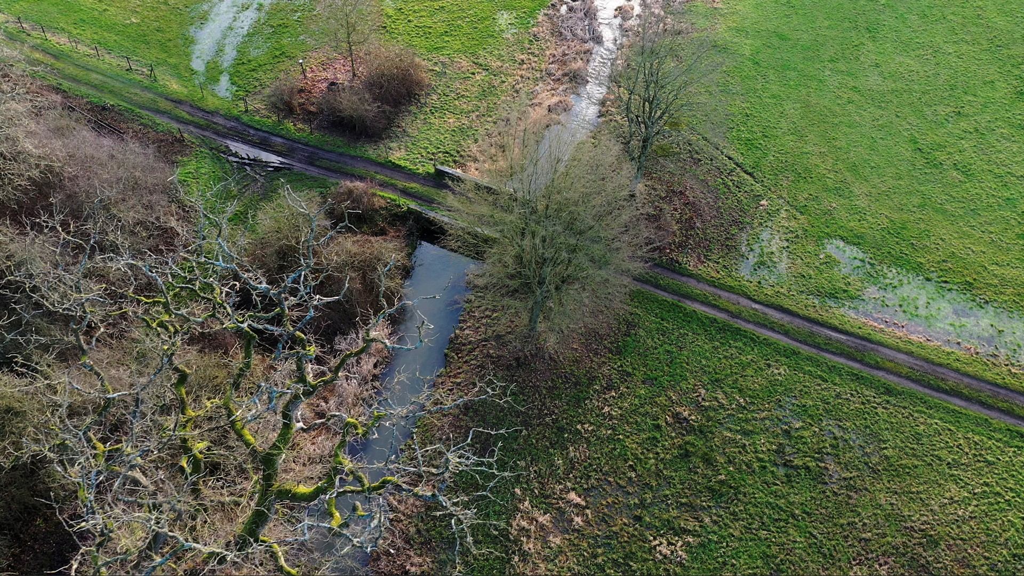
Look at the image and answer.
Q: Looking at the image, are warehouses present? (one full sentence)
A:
No, no warehouse is visible in the view.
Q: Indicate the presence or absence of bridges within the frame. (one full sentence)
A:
Yes, there's a bridge here.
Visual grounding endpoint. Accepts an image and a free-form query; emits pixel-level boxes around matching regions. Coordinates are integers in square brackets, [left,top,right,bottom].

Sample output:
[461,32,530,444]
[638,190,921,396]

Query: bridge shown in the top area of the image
[407,165,548,259]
